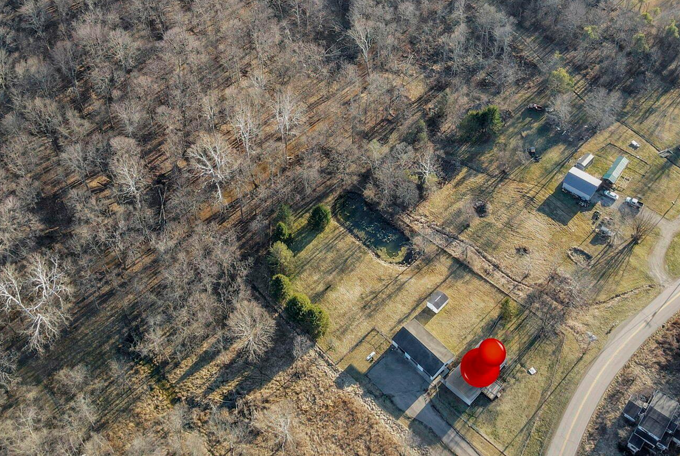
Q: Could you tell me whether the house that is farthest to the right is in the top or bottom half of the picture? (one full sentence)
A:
The house that is farthest to the right is in the bottom half of the image.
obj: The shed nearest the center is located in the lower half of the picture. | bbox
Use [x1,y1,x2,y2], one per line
[426,291,449,315]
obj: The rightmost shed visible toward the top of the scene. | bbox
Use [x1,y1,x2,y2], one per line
[603,156,629,186]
